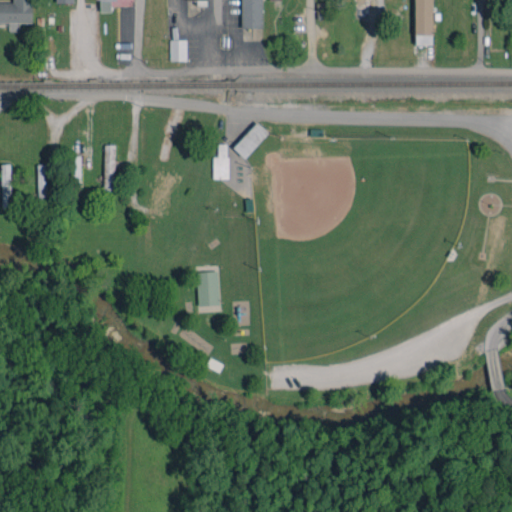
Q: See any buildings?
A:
Yes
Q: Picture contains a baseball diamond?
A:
Yes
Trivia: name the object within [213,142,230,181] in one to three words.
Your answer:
building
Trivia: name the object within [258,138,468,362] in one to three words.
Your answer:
baseball field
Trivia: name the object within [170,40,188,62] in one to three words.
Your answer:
building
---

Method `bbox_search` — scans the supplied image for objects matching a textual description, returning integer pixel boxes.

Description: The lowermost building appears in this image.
[196,265,222,313]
